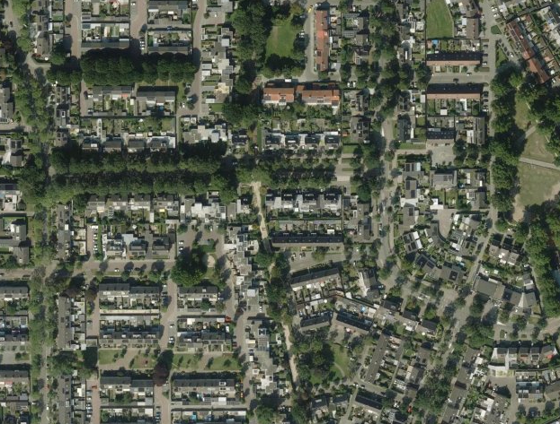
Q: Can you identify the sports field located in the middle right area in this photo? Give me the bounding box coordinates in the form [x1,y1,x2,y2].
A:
[520,165,560,205]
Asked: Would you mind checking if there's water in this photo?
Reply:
No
